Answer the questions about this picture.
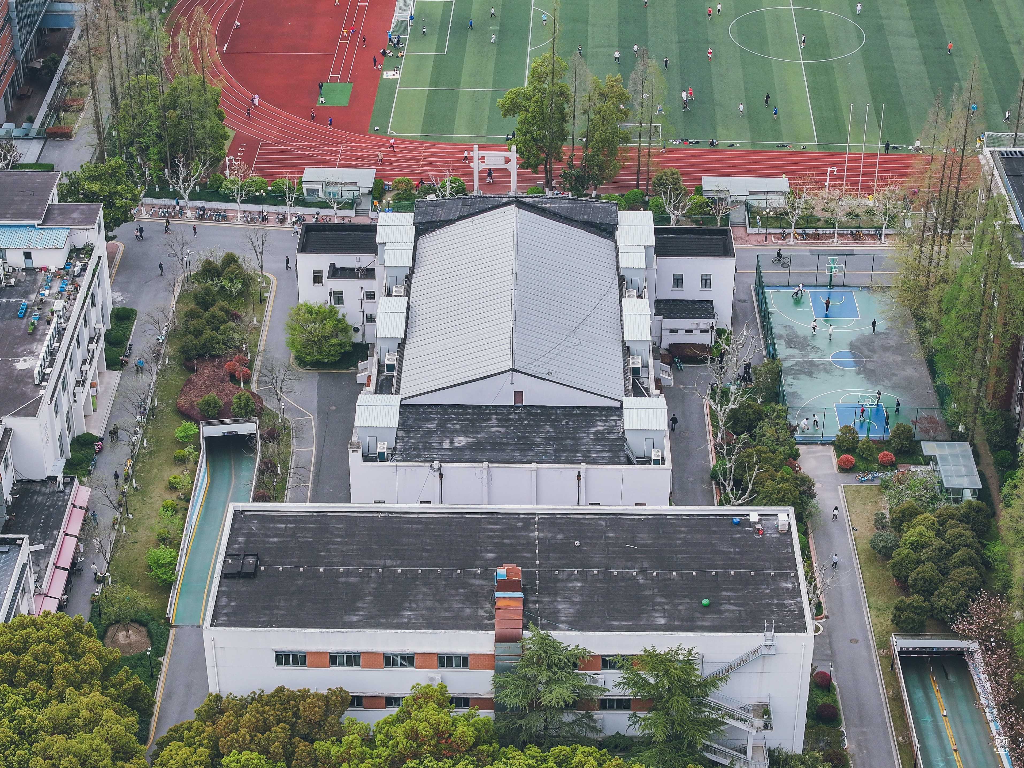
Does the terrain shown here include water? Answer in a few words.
No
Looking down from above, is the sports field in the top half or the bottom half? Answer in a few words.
top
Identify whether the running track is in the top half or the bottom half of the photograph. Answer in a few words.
top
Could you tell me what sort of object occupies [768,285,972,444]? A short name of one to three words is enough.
sports court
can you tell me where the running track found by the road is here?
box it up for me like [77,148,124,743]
[152,0,984,196]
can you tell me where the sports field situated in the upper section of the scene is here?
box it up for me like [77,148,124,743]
[127,0,995,228]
